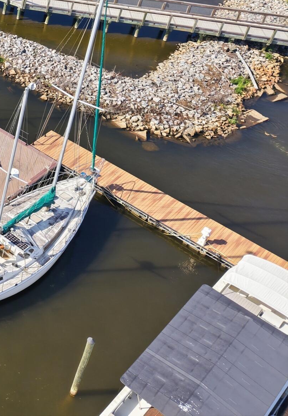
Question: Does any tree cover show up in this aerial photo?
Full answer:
No, tree cover can't be seen anywhere here.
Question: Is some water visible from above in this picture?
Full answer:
Yes, water can be seen from above here.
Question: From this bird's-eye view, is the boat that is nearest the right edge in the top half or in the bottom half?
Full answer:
Seen from above, the boat that is nearest the right edge lies in the bottom half of the view.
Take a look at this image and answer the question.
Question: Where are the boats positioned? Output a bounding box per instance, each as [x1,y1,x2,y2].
[0,0,108,305]
[86,252,288,416]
